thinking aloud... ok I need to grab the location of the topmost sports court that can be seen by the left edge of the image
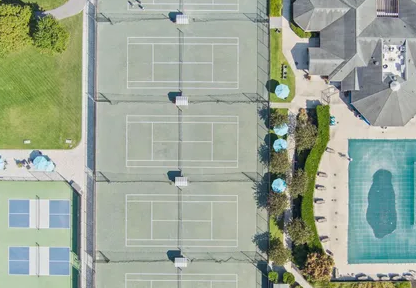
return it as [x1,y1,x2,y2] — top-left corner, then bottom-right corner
[0,181,81,236]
